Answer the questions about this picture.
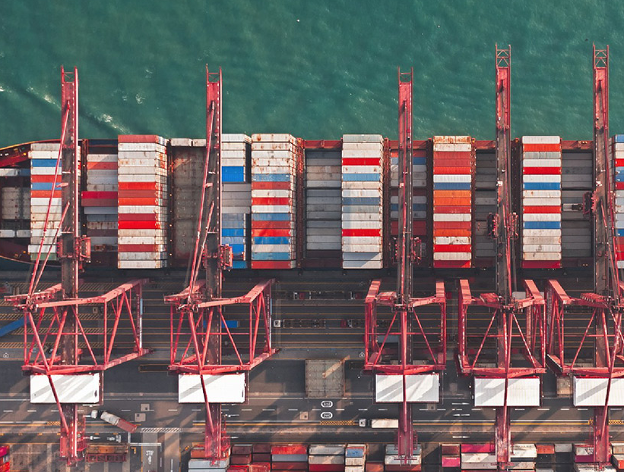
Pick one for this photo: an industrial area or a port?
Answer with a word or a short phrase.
port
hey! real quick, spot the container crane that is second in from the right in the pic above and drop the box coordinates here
[452,46,546,471]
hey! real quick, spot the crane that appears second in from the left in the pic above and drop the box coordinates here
[167,67,290,471]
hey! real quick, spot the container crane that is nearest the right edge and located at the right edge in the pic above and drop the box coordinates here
[536,46,624,471]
